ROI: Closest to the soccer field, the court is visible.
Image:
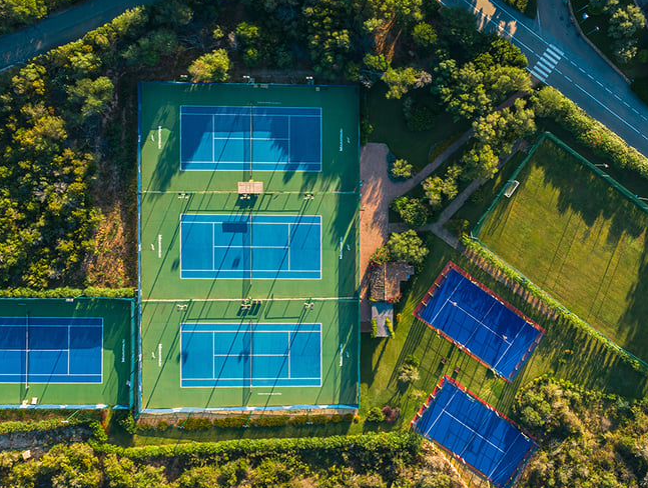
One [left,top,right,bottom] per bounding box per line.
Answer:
[412,261,550,386]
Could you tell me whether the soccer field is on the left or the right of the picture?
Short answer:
right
